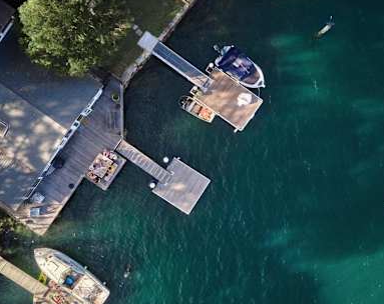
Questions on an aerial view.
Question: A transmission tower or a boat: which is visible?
boat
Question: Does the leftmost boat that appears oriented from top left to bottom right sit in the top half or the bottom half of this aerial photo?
bottom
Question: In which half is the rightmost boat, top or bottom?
top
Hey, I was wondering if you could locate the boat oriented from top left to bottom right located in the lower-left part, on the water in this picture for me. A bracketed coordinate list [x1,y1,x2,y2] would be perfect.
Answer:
[31,249,111,304]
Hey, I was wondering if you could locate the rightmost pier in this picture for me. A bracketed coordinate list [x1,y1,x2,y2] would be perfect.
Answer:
[193,68,263,131]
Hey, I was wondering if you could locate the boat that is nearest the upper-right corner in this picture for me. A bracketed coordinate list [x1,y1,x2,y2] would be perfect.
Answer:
[207,43,269,88]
